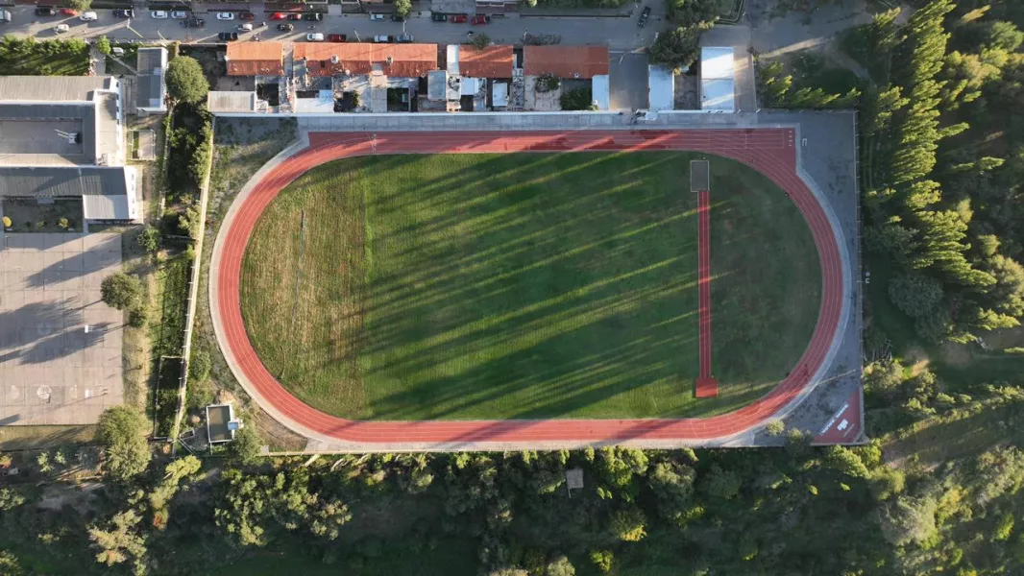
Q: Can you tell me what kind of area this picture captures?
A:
sports ground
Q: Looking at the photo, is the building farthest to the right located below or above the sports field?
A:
above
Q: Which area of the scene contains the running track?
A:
center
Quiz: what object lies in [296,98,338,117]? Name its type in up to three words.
shed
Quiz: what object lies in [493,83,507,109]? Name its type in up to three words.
shed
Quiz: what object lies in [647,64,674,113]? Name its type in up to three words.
building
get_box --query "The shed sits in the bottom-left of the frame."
[208,404,245,442]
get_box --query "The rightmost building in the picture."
[697,47,734,112]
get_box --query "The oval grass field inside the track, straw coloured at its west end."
[241,152,822,420]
